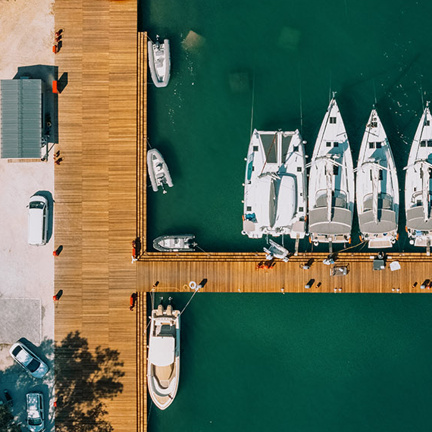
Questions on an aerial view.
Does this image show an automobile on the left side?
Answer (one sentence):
Yes, there is an automobile on the left side.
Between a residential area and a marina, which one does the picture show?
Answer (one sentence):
What you see here is a marina.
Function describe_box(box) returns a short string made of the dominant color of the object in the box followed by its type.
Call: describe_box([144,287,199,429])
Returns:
white boat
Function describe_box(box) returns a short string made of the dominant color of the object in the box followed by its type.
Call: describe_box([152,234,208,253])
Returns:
gray boat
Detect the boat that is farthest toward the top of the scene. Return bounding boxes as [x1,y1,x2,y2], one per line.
[147,31,171,87]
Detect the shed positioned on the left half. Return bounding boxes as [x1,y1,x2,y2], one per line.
[0,78,43,159]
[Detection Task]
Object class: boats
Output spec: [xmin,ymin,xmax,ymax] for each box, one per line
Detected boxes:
[262,239,288,259]
[404,76,432,253]
[303,92,354,259]
[147,31,171,87]
[152,234,208,253]
[144,287,199,429]
[241,82,310,257]
[147,139,172,201]
[351,87,399,250]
